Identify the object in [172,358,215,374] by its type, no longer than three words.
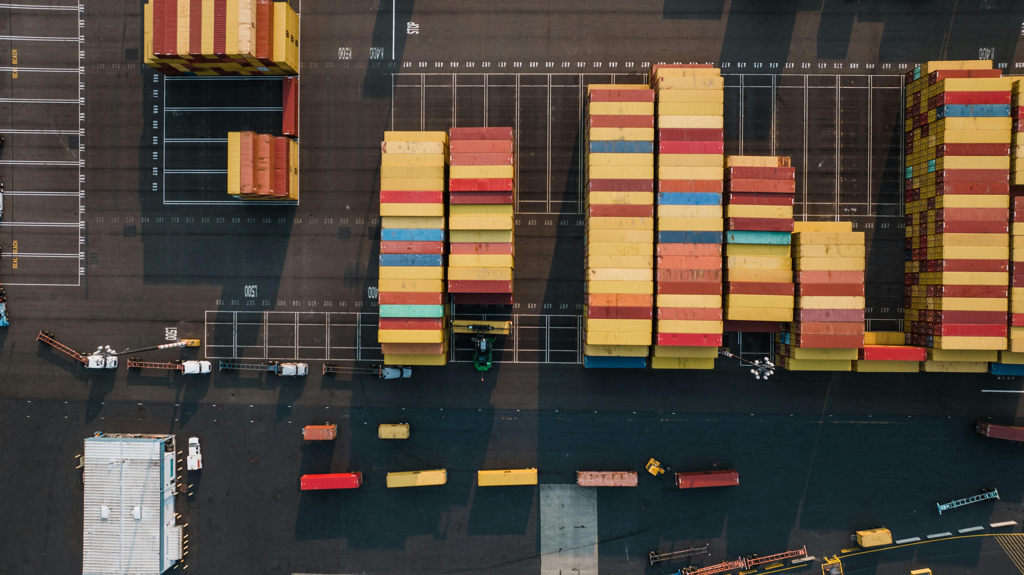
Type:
vehicle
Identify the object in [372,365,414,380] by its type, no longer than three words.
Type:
vehicle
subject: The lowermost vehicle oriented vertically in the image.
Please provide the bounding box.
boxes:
[188,435,202,470]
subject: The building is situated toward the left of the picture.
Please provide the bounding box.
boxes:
[81,434,187,575]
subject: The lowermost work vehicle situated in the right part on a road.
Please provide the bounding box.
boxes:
[645,458,668,477]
